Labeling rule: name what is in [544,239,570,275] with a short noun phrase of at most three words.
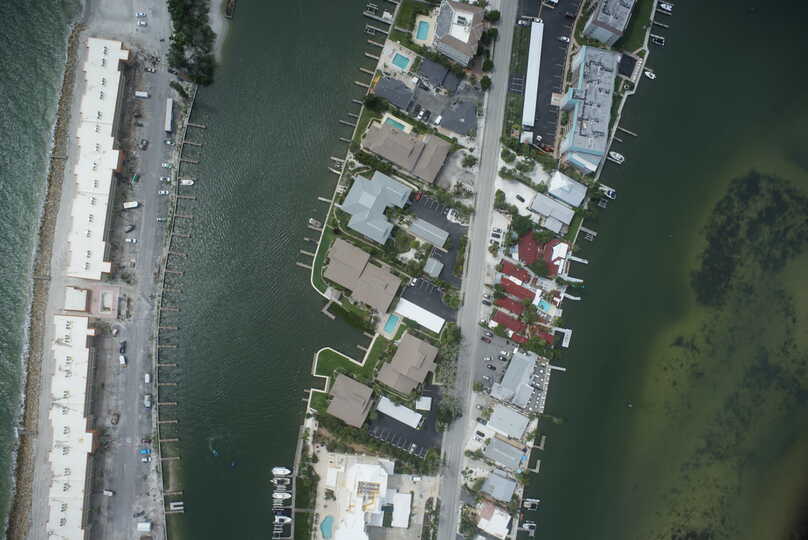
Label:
house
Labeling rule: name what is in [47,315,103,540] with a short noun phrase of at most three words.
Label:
building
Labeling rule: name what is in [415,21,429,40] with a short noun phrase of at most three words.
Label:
swimming pool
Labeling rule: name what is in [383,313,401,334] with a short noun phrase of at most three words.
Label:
swimming pool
